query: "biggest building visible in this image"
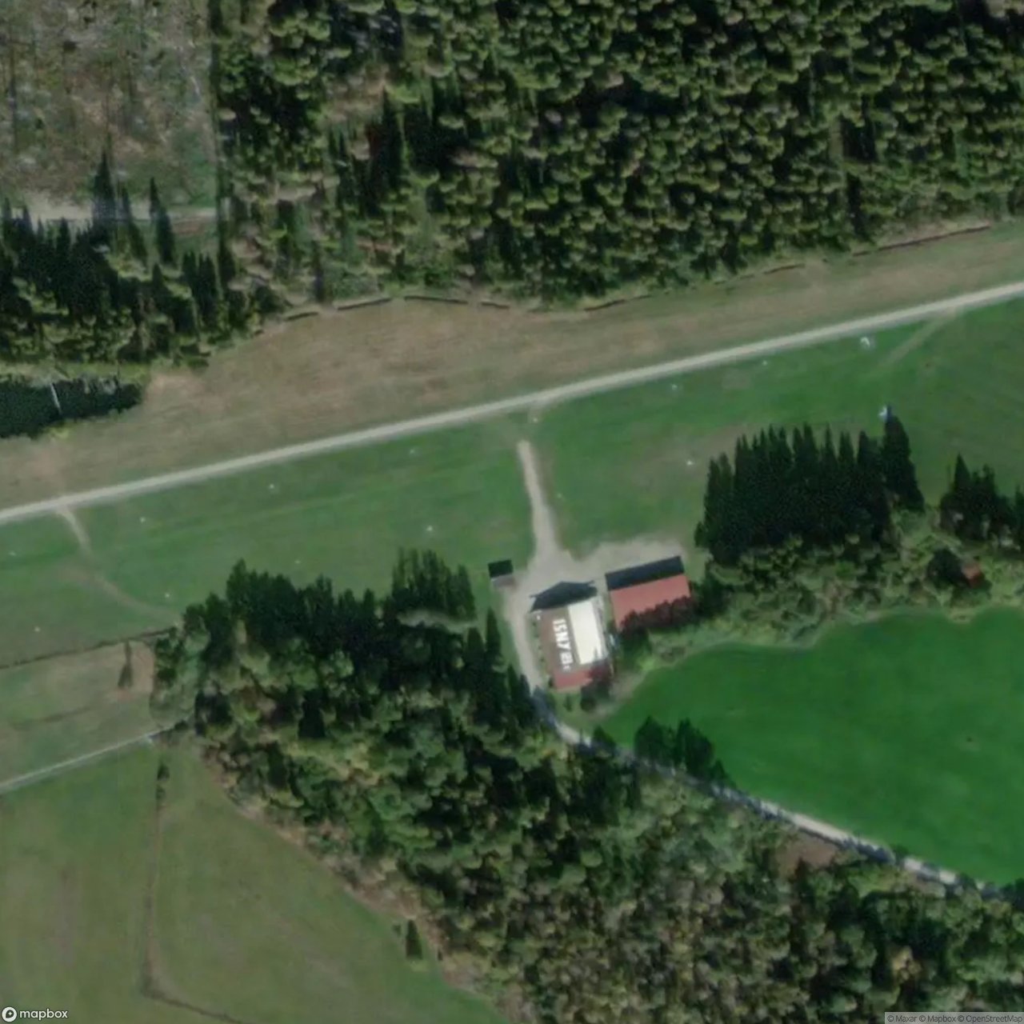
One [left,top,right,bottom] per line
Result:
[534,596,616,691]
